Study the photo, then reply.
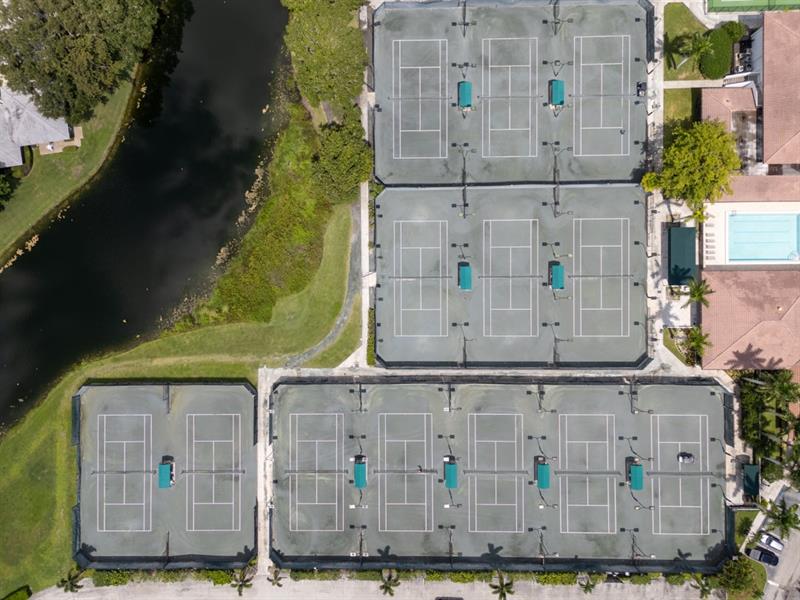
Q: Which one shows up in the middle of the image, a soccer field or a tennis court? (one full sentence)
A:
It is a tennis court that can be seen in the middle of the image.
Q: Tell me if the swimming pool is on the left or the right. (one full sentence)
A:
The swimming pool is on the right side of the image.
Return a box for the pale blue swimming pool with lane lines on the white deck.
[726,210,800,266]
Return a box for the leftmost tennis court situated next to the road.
[80,386,168,562]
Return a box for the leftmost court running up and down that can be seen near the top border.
[376,8,464,186]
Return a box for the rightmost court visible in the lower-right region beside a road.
[633,386,727,566]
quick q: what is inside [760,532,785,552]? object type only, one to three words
car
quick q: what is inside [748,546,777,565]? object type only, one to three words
vehicle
